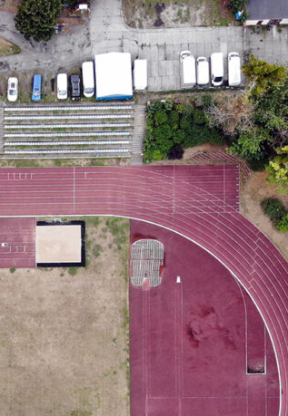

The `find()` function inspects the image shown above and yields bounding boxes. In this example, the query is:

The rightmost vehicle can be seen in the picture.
[224,57,239,88]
